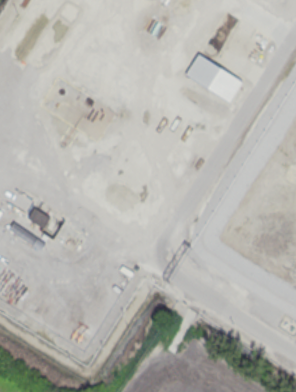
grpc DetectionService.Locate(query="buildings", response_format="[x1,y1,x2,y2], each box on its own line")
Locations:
[26,206,50,227]
[186,54,242,101]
